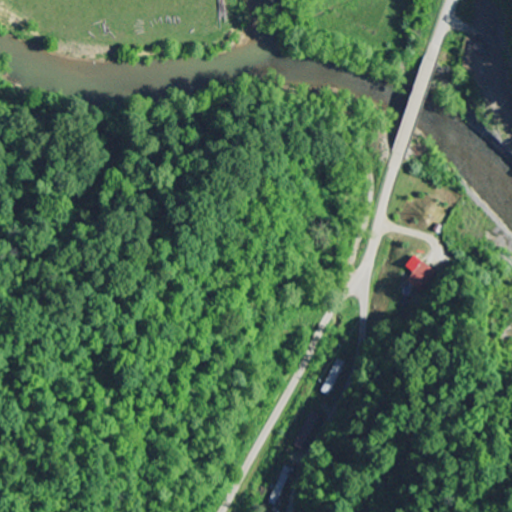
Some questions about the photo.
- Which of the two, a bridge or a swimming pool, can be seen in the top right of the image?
bridge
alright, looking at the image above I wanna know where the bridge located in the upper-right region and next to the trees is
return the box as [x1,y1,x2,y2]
[388,44,442,164]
